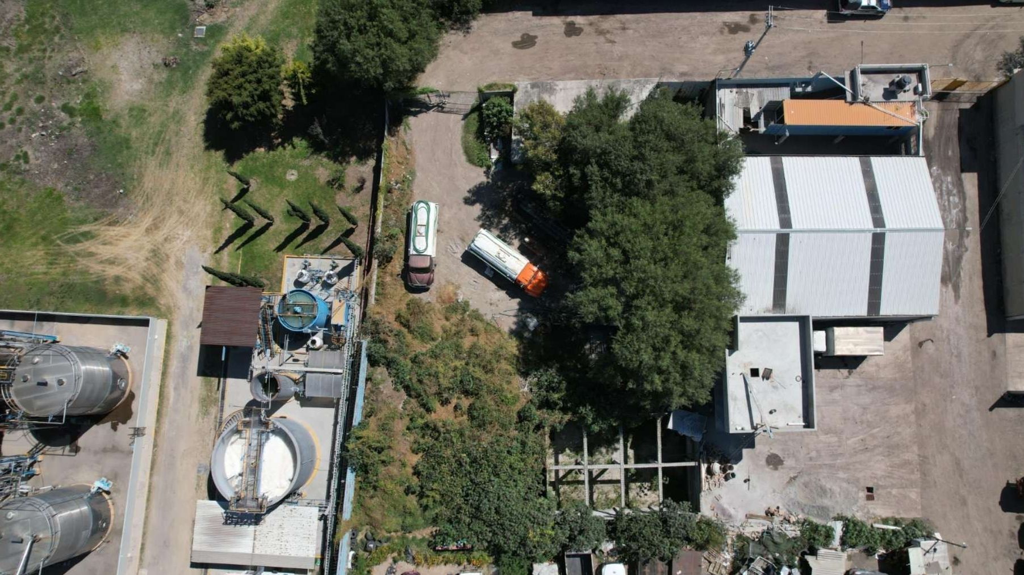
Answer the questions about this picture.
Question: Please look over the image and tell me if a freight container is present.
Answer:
Yes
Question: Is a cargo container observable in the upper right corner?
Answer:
Yes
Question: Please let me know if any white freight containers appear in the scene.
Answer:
No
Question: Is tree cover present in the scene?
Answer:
Yes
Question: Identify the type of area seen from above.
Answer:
industrial area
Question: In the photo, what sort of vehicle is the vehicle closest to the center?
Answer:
truck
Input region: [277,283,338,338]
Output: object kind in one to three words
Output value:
storage tank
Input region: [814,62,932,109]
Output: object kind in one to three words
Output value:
building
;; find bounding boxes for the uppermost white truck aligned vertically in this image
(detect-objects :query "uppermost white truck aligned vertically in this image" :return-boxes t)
[405,202,439,288]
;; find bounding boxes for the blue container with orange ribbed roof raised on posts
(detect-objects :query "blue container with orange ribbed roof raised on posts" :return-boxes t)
[762,99,919,140]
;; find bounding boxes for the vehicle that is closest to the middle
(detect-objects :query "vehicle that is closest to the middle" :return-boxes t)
[467,228,550,298]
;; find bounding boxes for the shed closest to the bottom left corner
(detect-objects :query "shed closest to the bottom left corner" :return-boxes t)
[190,493,329,569]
